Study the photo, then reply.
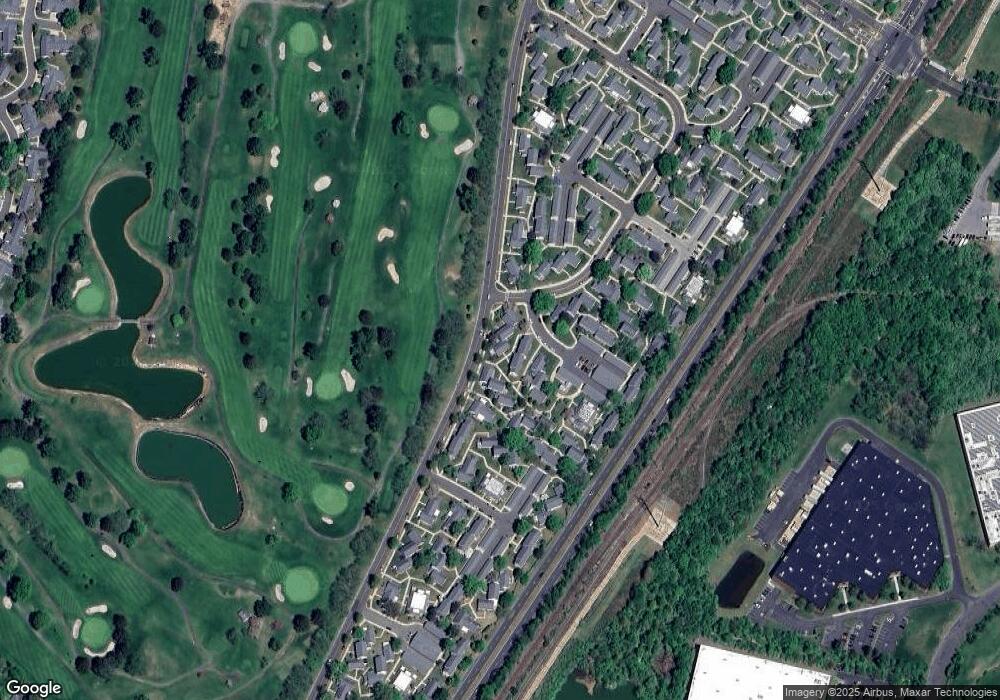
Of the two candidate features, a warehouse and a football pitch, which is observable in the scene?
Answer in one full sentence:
I can see a warehouse in this picture.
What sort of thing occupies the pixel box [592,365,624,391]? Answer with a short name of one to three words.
building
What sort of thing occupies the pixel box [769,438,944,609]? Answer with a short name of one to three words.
warehouse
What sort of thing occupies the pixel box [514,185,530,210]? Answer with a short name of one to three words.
house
